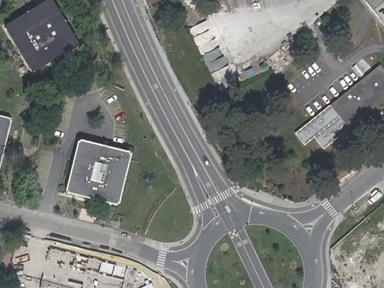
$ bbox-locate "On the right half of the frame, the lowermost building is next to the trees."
[295,106,345,150]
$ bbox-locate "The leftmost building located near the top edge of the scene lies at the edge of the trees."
[5,0,78,70]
